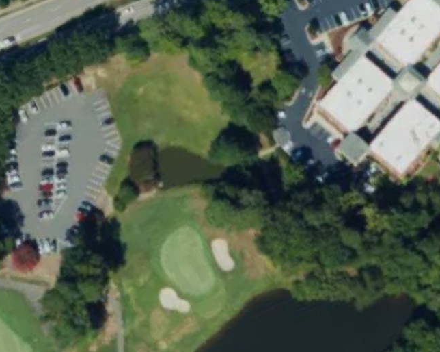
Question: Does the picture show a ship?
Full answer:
No, no ship can be seen from above.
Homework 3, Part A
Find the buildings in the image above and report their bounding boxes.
[319,0,440,177]
[273,127,290,147]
